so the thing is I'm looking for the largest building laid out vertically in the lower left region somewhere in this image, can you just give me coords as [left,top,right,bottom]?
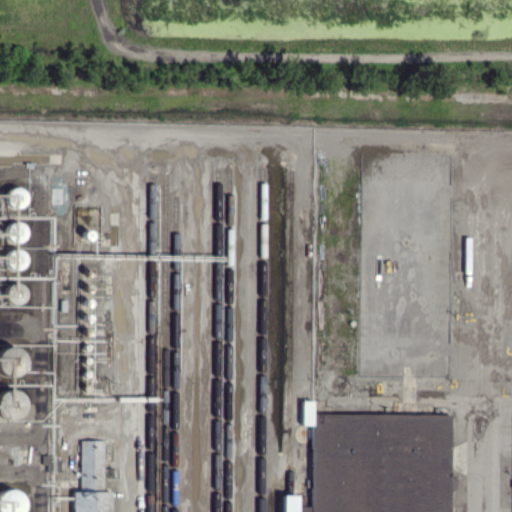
[80,441,105,492]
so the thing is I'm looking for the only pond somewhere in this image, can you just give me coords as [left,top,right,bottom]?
[146,0,512,42]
